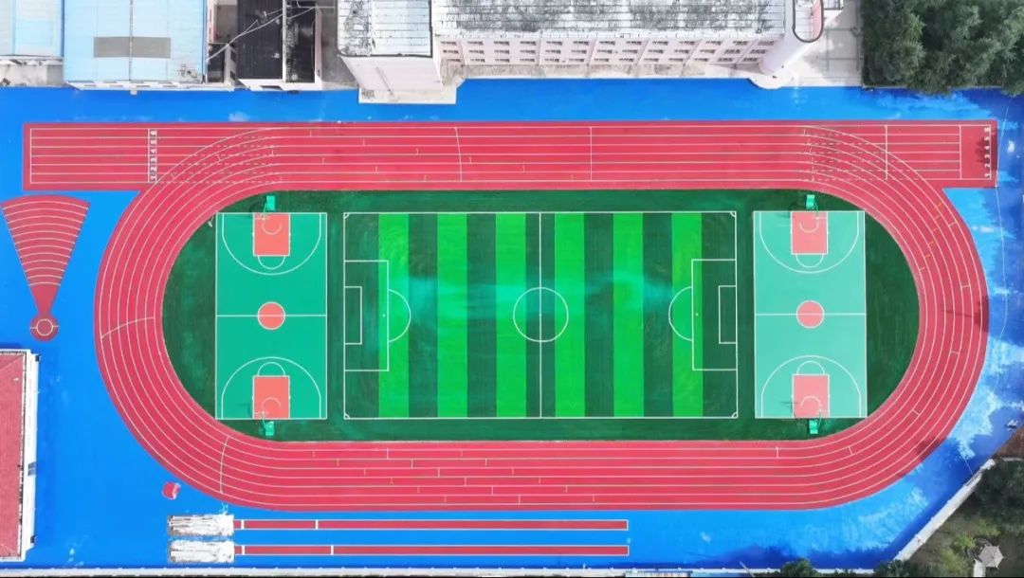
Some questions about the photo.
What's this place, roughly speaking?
sports ground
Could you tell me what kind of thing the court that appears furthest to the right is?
basketball court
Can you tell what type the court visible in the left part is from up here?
basketball court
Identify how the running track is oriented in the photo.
from side to side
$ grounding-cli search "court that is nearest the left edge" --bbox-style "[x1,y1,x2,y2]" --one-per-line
[216,212,327,419]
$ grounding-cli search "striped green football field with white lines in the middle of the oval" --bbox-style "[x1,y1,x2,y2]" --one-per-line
[344,211,737,419]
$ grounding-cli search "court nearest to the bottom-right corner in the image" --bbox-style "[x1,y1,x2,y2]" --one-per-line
[753,211,867,418]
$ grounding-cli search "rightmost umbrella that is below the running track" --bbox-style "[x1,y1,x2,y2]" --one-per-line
[976,546,1002,568]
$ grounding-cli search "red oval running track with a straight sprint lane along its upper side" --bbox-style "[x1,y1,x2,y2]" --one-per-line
[23,120,998,511]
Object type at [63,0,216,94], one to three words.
shed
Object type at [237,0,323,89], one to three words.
building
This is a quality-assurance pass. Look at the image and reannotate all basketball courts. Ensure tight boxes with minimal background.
[216,212,327,419]
[753,211,867,418]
